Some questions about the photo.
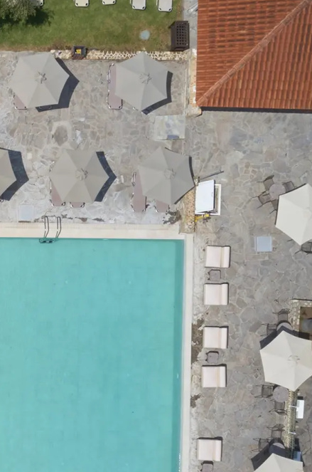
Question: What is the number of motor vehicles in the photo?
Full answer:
The count of motor vehicles is 0.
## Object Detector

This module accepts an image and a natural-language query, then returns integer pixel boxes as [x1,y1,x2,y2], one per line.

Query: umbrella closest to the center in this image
[136,146,195,206]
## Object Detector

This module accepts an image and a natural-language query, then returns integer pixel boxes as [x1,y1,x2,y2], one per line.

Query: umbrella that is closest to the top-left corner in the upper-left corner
[9,53,70,109]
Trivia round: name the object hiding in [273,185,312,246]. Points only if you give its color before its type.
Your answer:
white umbrella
